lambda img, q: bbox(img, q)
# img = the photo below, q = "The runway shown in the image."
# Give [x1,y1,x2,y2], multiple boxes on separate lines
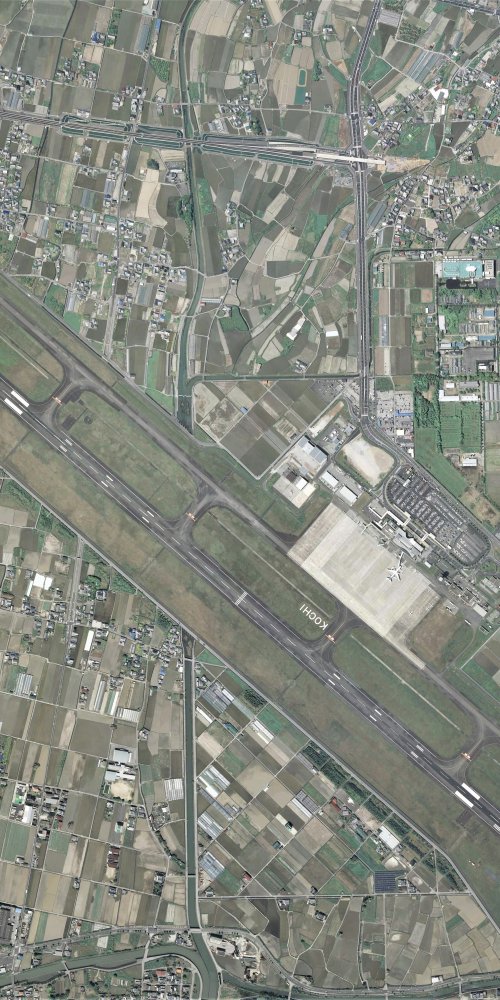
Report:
[0,378,500,835]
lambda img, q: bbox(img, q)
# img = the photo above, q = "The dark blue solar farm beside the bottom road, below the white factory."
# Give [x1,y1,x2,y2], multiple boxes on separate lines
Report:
[373,872,396,892]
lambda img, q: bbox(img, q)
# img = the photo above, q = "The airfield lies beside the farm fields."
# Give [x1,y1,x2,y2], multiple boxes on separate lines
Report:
[0,273,500,928]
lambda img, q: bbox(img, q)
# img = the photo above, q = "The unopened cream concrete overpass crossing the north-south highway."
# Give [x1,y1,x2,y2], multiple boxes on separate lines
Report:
[268,145,388,164]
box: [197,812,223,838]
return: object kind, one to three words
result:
greenhouse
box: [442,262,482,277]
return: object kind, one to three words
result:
building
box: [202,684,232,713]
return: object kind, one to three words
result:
greenhouse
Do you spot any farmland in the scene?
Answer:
Yes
